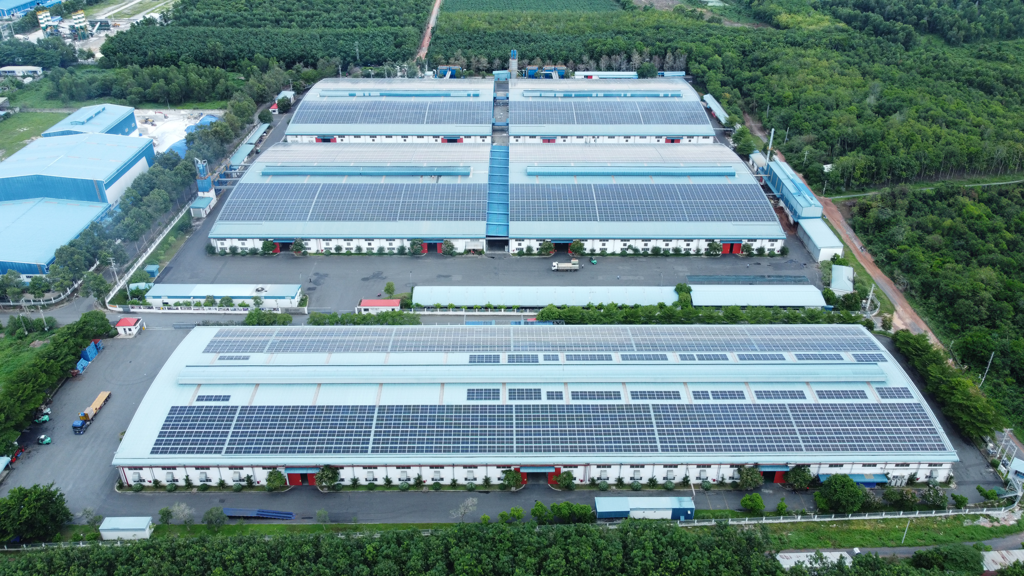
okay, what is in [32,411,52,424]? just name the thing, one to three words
vehicle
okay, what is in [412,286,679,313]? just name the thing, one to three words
shed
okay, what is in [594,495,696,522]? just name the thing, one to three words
building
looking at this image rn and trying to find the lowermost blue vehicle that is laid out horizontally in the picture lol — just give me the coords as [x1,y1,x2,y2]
[218,505,295,521]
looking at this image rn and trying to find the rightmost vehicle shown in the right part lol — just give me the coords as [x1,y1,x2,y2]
[853,542,865,561]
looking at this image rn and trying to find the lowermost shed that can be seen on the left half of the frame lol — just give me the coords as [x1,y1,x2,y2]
[100,518,153,538]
